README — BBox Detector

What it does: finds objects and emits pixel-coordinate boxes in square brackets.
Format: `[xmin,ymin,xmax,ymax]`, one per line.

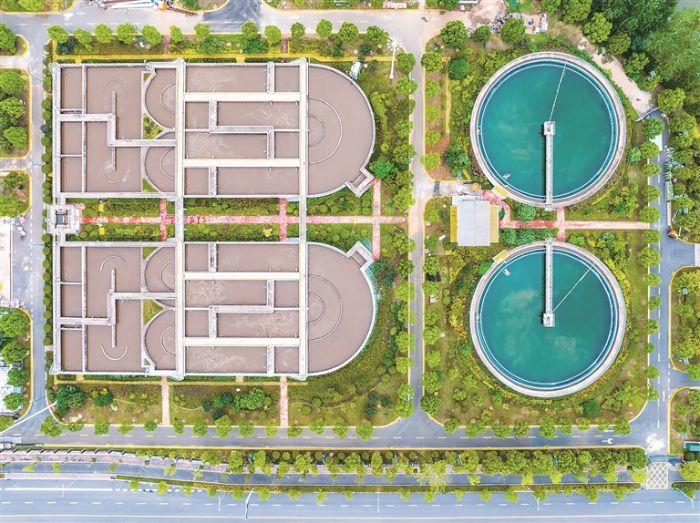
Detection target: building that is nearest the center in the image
[448,196,500,246]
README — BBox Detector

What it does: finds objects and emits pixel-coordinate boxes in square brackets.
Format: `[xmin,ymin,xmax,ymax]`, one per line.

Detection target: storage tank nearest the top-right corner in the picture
[468,50,628,212]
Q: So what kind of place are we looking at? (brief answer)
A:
industrial area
